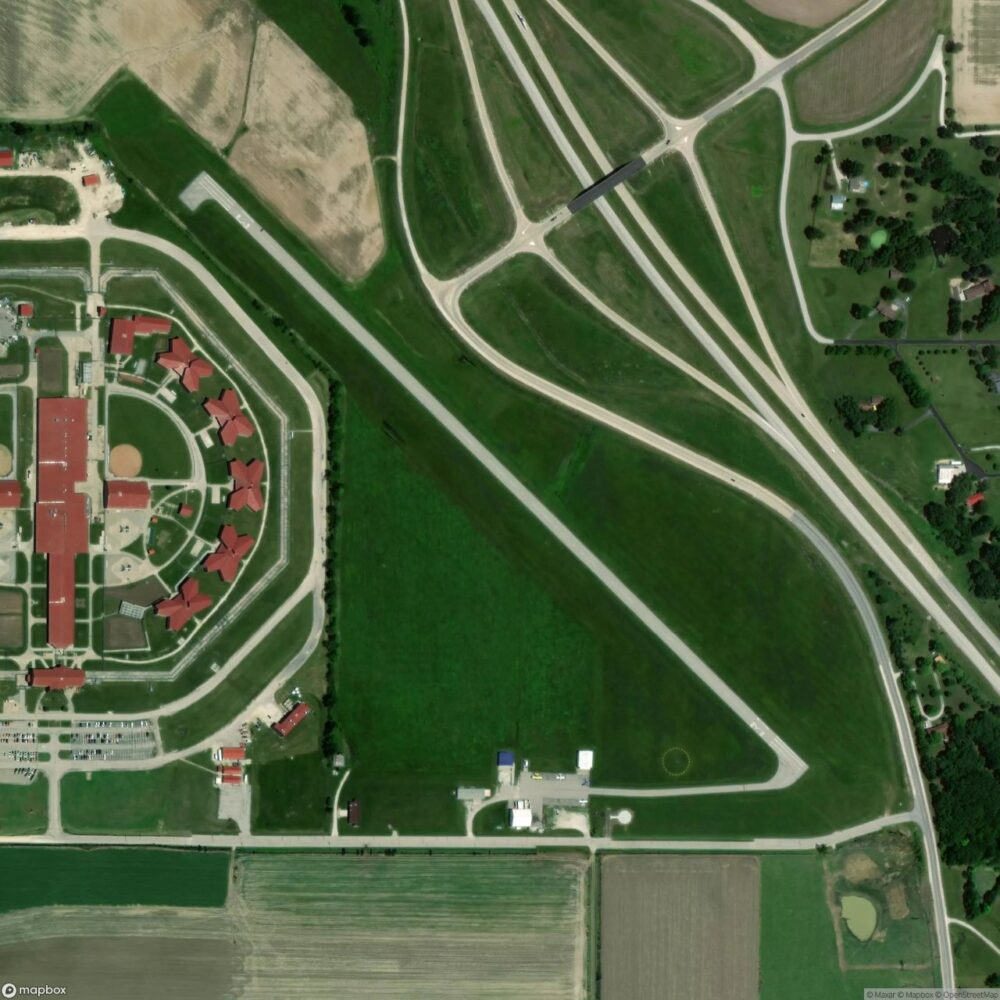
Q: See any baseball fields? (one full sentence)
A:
Yes, a baseball field can be made out from above.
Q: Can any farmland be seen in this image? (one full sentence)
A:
Yes, farmland can be seen from above here.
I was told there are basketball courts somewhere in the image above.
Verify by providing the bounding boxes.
[104,553,155,586]
[105,511,147,551]
[0,511,16,551]
[0,556,16,583]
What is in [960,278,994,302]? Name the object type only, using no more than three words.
house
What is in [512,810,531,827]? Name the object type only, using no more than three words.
hangar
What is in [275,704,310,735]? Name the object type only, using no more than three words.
shed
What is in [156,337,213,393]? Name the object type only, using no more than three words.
building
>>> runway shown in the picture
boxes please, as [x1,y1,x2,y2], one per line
[208,174,807,764]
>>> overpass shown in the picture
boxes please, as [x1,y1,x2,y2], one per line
[567,156,646,214]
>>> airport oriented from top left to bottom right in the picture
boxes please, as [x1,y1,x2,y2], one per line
[180,172,809,821]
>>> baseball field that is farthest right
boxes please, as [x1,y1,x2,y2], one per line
[107,388,190,478]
